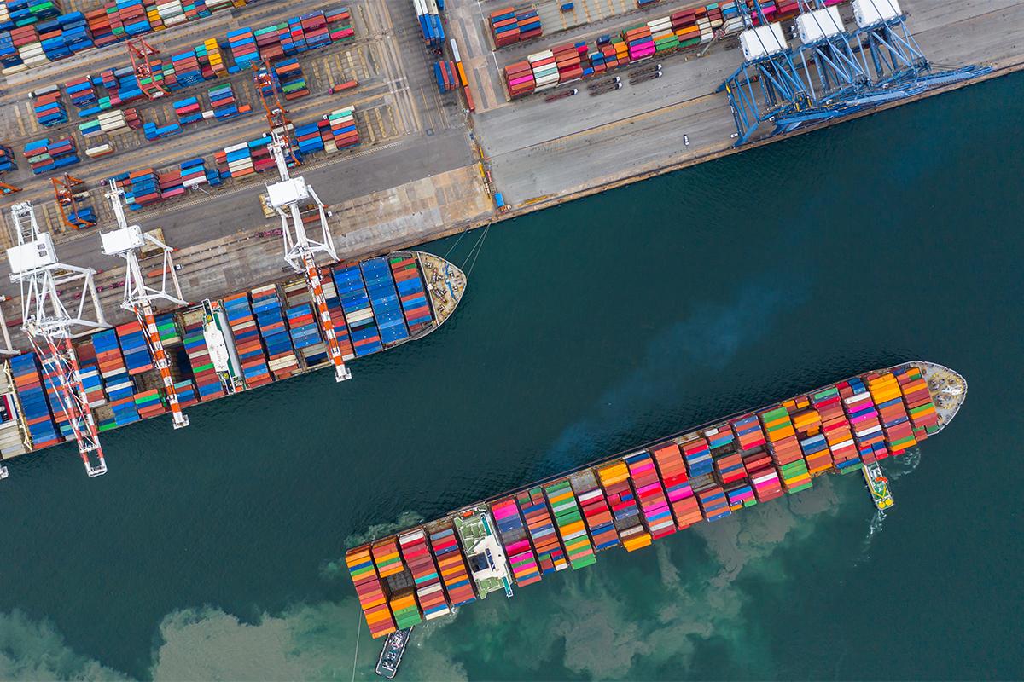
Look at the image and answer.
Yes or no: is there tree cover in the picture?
No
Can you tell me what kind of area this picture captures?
port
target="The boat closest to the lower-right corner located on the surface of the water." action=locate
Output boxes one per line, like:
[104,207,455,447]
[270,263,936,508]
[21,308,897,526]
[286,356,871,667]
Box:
[866,461,896,514]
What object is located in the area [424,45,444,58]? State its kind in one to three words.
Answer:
vehicle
